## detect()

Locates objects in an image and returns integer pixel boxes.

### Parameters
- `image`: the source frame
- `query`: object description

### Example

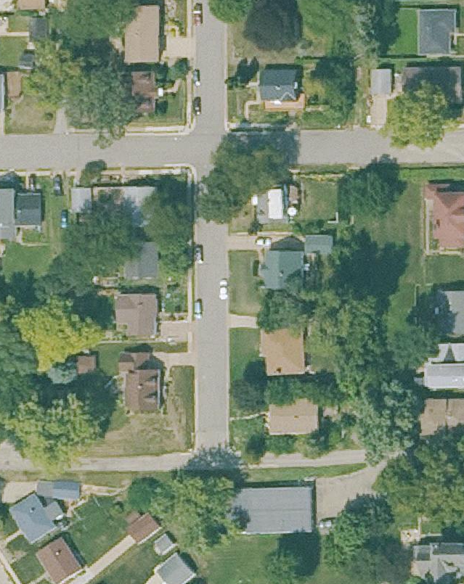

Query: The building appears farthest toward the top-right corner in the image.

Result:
[419,9,456,54]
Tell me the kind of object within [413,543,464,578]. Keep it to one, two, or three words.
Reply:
house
